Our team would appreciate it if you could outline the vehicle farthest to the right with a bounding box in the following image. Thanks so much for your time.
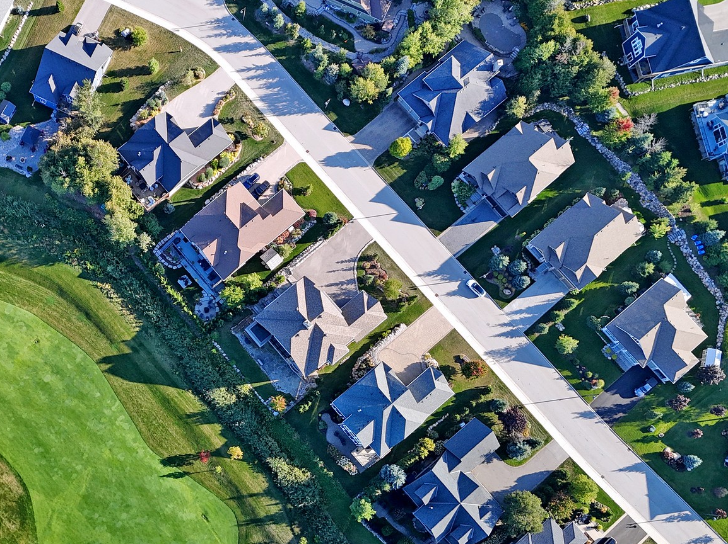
[632,375,661,399]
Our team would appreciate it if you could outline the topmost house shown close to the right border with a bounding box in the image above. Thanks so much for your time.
[615,0,728,83]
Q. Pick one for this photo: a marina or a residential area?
residential area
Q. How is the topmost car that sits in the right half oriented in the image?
on a diagonal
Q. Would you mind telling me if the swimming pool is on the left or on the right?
right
